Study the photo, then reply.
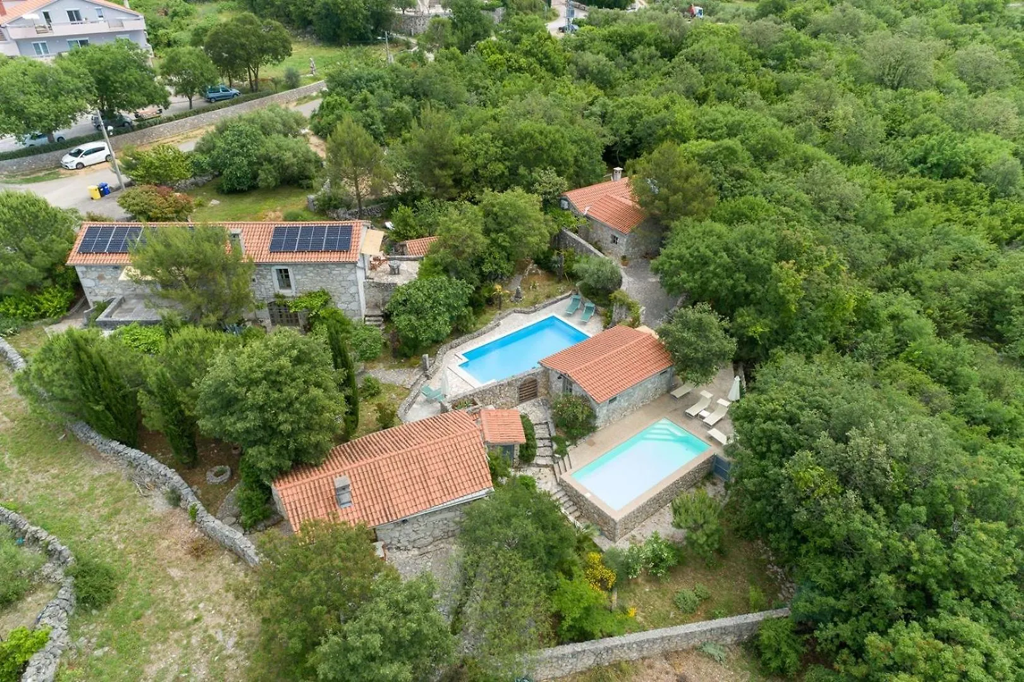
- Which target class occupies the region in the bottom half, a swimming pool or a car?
swimming pool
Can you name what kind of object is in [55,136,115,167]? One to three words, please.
car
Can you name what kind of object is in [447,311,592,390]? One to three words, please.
swimming pool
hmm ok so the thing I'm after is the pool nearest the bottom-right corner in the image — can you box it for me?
[558,410,718,547]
